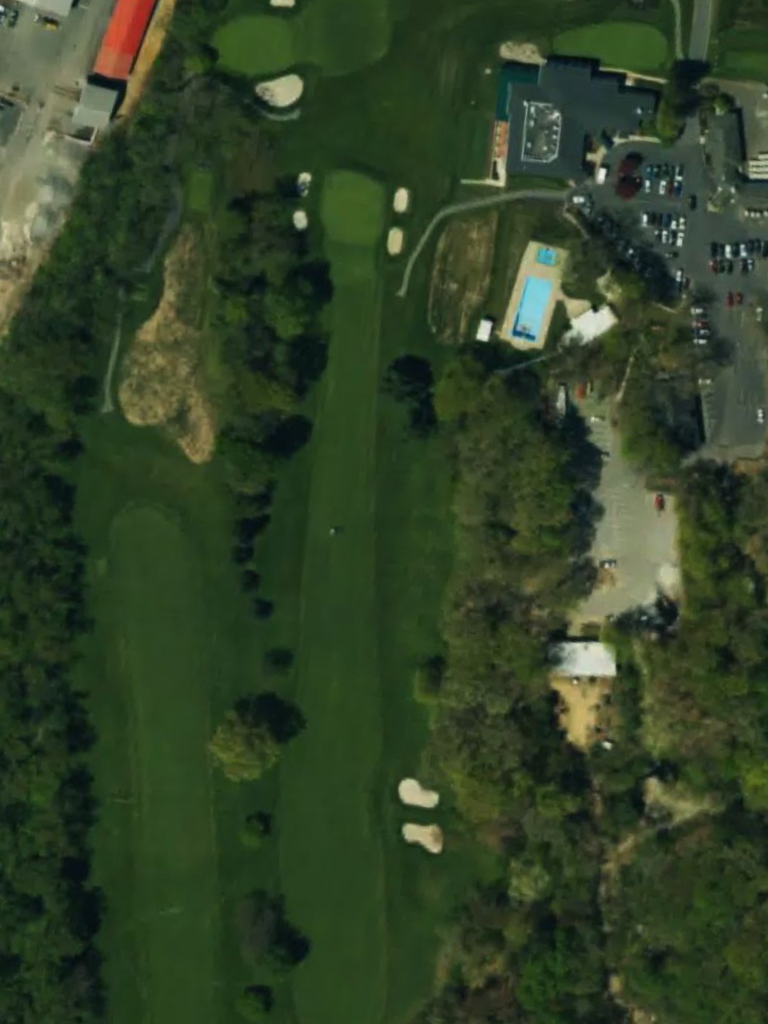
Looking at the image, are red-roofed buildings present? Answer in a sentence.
Yes, I can see a red-roofed building in this picture.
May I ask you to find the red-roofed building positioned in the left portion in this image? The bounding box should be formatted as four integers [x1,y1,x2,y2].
[93,0,156,81]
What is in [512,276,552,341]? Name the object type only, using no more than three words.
swimming pool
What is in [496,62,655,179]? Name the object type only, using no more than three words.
building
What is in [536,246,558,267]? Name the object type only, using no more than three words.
swimming pool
